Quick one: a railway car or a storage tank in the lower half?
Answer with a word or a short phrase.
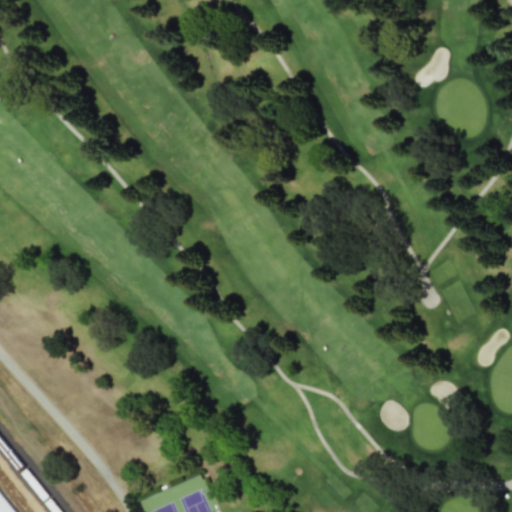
railway car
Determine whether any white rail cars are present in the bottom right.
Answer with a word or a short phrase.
No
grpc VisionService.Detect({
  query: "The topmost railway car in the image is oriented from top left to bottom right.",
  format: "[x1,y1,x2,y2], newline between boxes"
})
[0,431,28,470]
